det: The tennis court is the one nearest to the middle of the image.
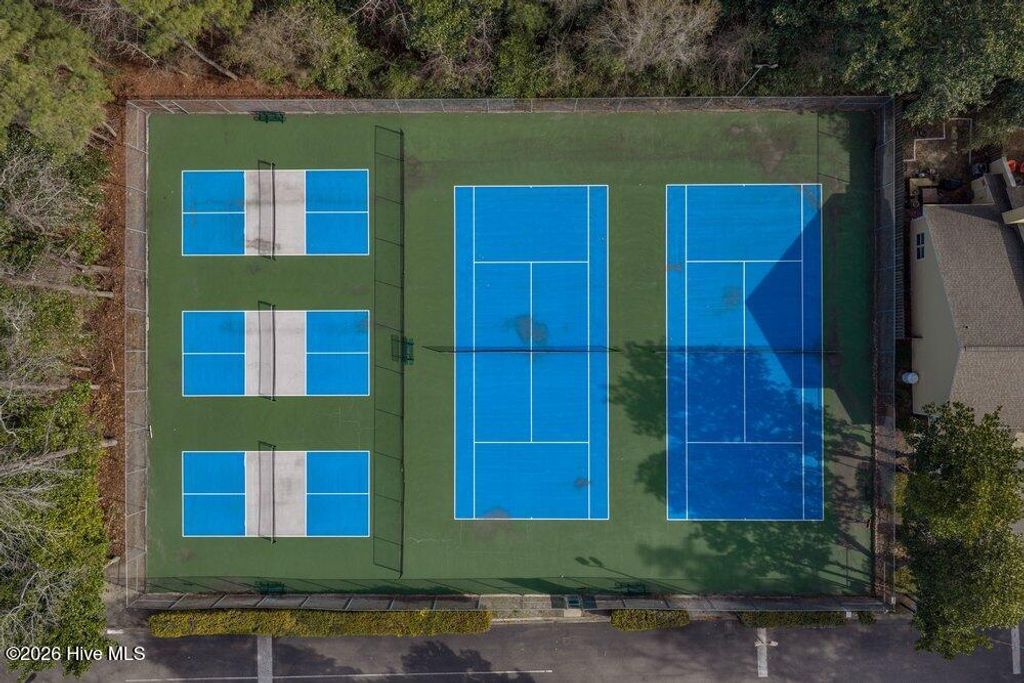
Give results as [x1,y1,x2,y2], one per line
[455,185,609,520]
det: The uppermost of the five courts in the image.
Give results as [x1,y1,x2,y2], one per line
[183,170,369,256]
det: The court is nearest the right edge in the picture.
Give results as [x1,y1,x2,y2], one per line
[667,184,823,521]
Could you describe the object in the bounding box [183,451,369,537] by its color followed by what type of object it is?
blue sports court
